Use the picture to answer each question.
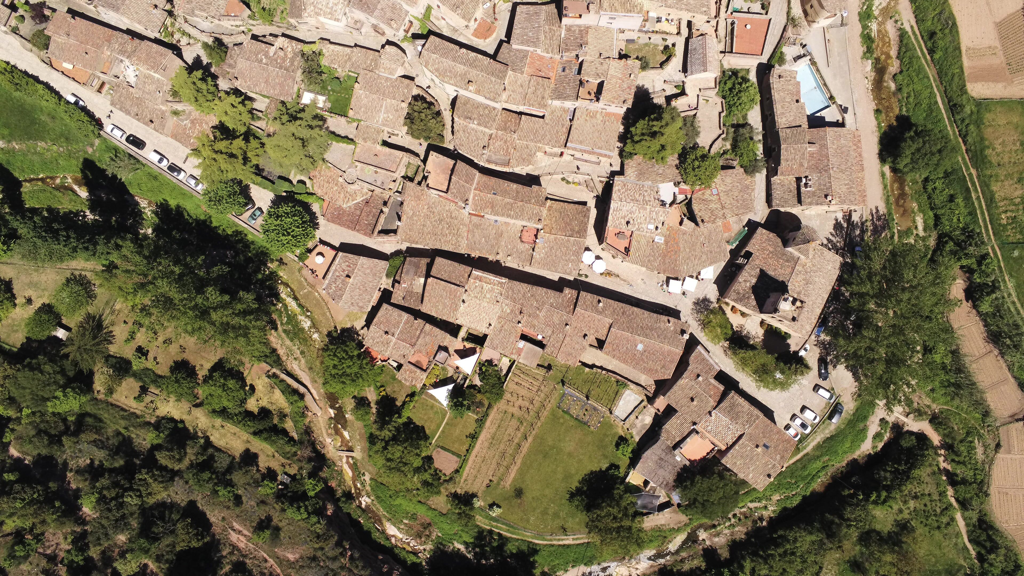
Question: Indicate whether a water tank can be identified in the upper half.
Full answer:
No, no water tank is visible in the upper half.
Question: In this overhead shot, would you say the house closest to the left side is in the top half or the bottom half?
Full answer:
Seen from above, the house closest to the left side lies in the top half of the view.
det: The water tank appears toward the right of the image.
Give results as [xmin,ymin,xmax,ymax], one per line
[614,389,643,420]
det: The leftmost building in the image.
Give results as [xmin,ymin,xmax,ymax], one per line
[0,4,28,35]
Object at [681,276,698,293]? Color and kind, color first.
white umbrella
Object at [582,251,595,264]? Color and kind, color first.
white umbrella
